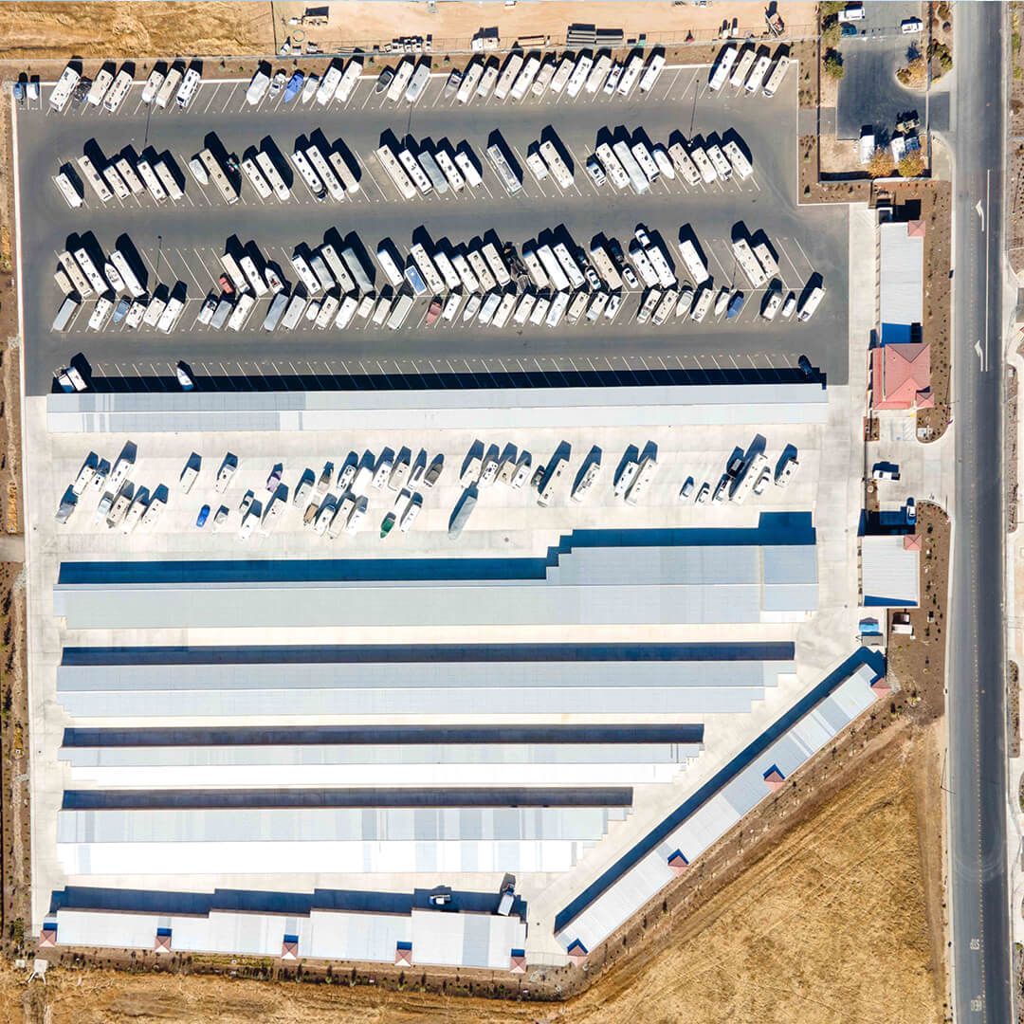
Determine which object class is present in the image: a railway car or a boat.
boat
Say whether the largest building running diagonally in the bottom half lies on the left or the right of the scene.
right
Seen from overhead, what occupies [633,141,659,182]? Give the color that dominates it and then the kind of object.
white camper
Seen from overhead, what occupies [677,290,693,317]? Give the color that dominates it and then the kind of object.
white boat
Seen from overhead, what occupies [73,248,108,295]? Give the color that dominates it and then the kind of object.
white trailer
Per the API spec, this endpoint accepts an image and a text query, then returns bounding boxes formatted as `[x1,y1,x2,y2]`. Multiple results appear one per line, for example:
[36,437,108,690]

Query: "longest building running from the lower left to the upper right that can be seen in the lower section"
[556,665,889,958]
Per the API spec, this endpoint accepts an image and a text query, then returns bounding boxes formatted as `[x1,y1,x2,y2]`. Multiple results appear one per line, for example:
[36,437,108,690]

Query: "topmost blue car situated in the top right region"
[839,25,858,37]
